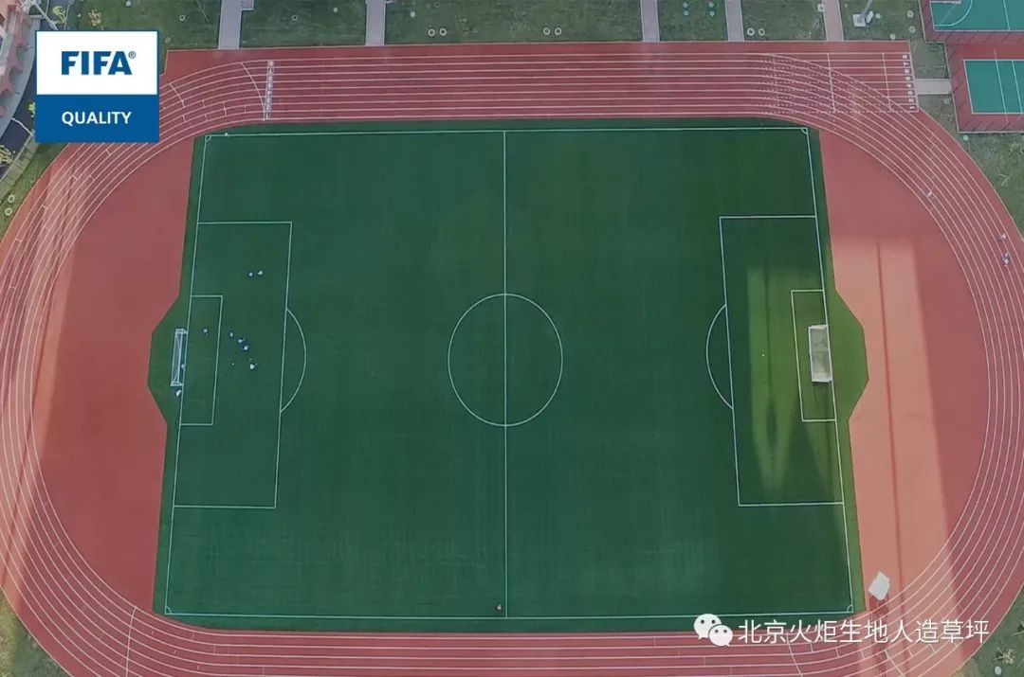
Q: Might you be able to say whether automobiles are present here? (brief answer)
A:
No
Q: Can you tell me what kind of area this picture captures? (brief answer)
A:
sports ground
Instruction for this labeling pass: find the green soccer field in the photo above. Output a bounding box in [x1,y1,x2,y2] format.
[147,117,868,633]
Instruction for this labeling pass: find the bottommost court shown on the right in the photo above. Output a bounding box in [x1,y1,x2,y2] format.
[944,42,1024,132]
